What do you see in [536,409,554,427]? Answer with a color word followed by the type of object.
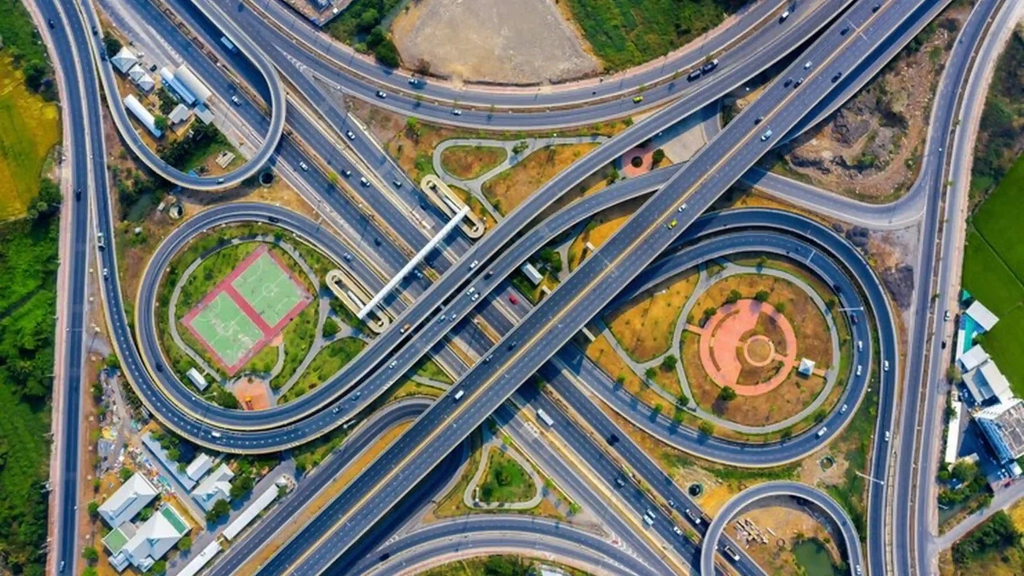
white vehicle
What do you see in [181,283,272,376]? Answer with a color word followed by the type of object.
green sports court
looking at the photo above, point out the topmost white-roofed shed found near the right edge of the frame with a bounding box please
[960,300,1000,331]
